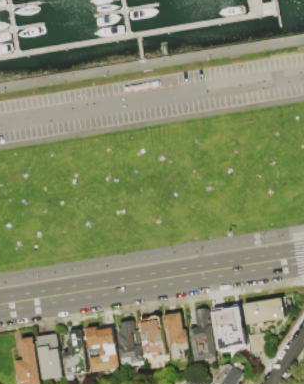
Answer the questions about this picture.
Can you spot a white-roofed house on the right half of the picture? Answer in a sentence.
Yes, a white-roofed house shows up on the right half of the picture.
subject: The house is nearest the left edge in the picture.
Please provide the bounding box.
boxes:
[16,337,41,384]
